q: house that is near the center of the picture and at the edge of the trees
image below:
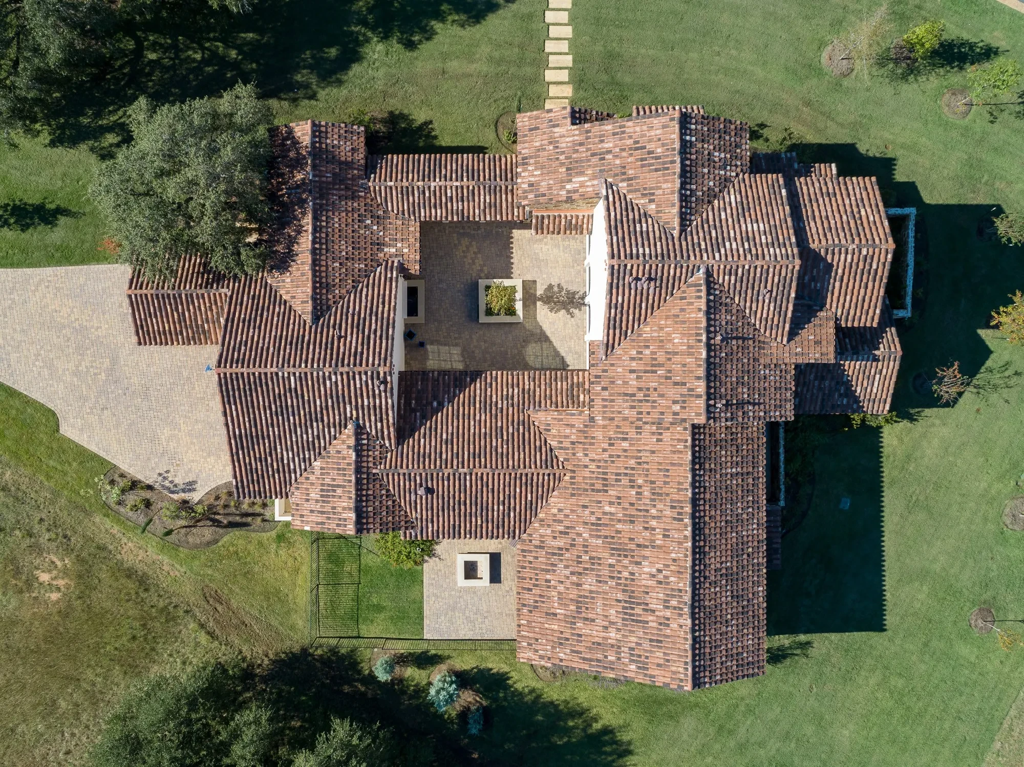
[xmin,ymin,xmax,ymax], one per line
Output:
[124,104,905,693]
